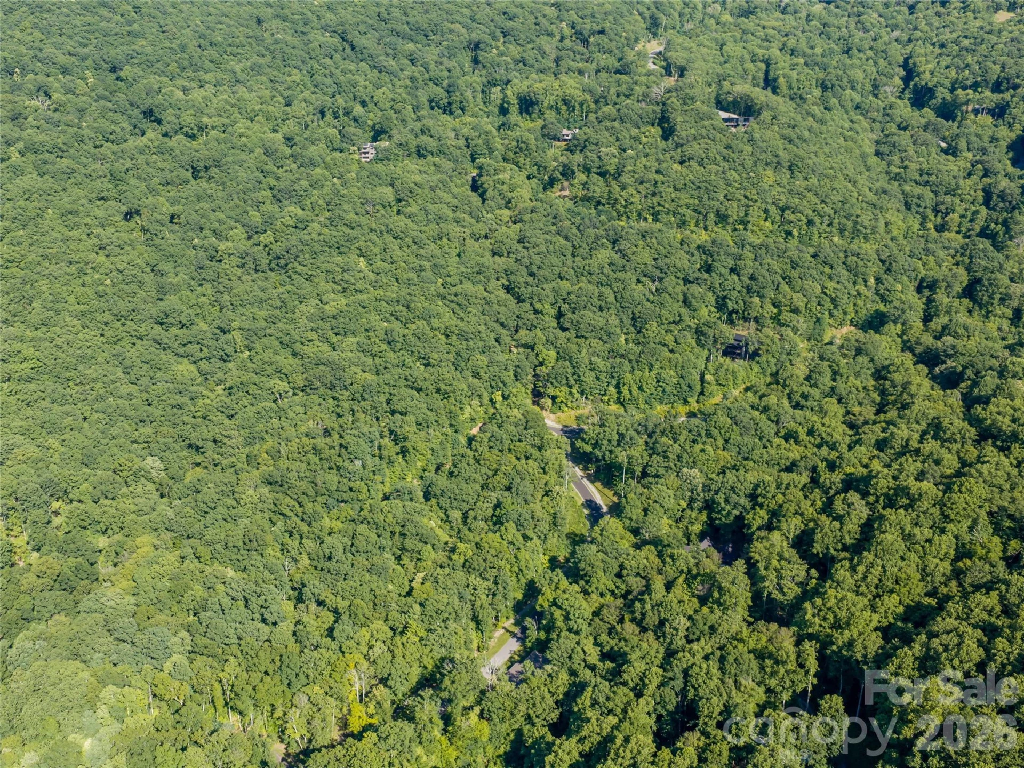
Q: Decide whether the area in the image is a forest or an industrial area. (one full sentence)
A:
The picture captures a forest.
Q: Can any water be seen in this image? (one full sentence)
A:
No, the scene doesn't show any water.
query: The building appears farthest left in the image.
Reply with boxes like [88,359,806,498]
[357,137,376,160]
